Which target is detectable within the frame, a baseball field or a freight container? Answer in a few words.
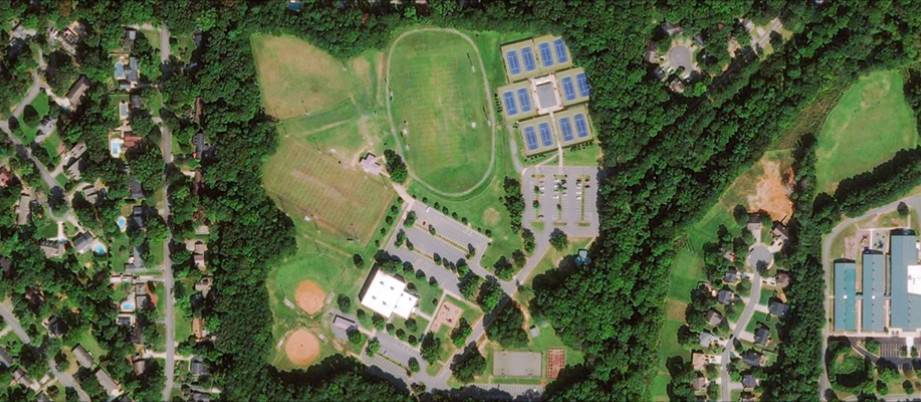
baseball field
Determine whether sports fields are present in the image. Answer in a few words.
Yes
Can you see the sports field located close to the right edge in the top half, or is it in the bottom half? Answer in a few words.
top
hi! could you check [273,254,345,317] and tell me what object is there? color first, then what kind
green baseball field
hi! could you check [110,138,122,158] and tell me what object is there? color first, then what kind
white swimming pool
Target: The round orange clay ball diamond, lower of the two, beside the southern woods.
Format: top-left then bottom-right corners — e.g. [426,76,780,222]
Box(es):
[275,326,327,368]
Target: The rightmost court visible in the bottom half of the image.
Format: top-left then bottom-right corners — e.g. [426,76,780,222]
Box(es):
[548,348,565,379]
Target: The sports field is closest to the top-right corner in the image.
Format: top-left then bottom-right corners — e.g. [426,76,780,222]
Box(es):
[813,70,918,193]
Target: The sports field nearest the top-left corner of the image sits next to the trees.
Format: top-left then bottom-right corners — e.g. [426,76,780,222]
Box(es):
[251,34,353,119]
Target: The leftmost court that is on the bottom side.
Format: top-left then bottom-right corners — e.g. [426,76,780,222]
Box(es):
[493,351,541,376]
